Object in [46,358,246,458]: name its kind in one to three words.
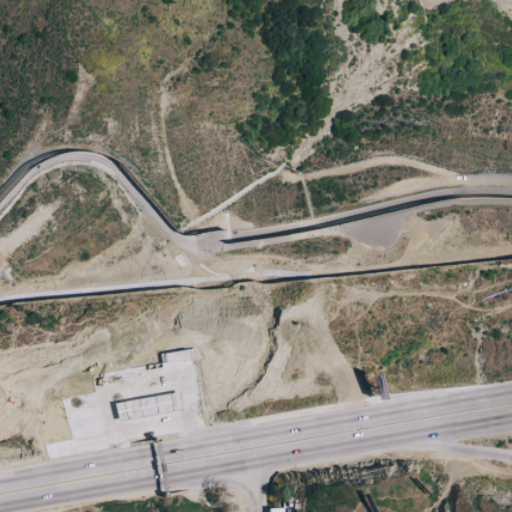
service area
